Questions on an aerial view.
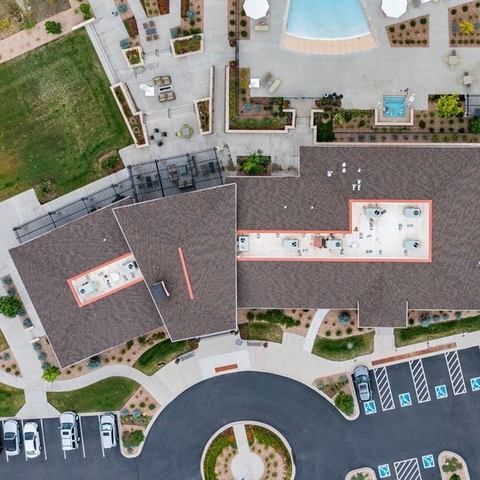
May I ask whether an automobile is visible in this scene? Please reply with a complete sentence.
Yes, there is an automobile in the image.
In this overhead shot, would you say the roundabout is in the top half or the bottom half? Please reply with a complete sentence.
The roundabout is in the bottom half of the image.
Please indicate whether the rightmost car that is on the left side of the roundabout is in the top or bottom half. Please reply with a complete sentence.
The rightmost car that is on the left side of the roundabout is in the bottom half of the image.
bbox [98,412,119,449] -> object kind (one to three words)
car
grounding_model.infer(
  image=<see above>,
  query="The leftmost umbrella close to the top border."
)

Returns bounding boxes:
[243,0,269,19]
